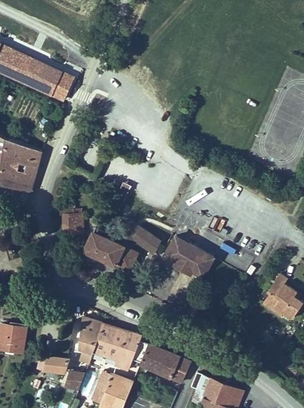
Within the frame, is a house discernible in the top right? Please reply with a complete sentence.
No, there's no house to be seen in the top right.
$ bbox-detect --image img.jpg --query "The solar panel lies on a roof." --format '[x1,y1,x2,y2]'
[0,66,52,95]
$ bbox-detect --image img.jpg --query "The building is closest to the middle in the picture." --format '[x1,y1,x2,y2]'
[132,226,162,254]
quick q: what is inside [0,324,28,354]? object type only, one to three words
house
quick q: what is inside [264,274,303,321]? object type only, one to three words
house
